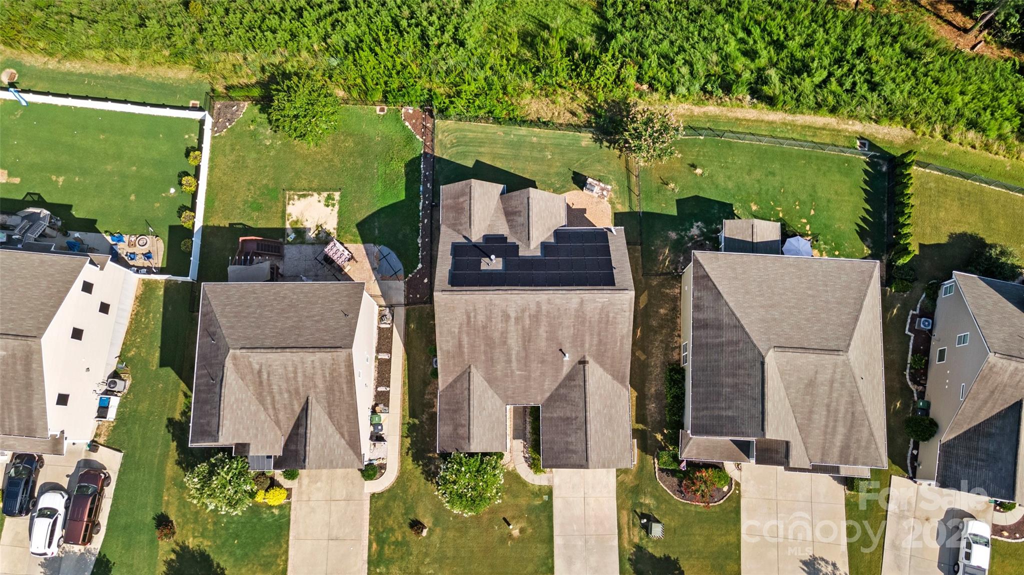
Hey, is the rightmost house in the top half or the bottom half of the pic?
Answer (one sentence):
You can find the rightmost house in the bottom half.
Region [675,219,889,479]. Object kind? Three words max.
house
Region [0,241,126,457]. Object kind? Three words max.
house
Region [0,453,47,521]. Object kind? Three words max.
car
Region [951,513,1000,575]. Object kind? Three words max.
truck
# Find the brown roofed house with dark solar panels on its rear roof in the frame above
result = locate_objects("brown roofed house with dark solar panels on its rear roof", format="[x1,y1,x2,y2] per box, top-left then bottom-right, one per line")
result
[434,180,634,470]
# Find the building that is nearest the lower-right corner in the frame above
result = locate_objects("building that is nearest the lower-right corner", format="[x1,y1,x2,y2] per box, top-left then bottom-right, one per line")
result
[914,272,1024,505]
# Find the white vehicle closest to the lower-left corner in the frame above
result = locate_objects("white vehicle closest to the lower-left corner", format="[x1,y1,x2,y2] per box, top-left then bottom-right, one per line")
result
[26,487,69,560]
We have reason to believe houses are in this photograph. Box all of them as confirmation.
[914,272,1024,505]
[434,180,634,470]
[188,282,380,472]
[0,241,126,457]
[675,219,889,479]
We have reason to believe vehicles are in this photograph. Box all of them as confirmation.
[26,487,69,560]
[951,513,1000,575]
[60,465,111,547]
[0,453,47,521]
